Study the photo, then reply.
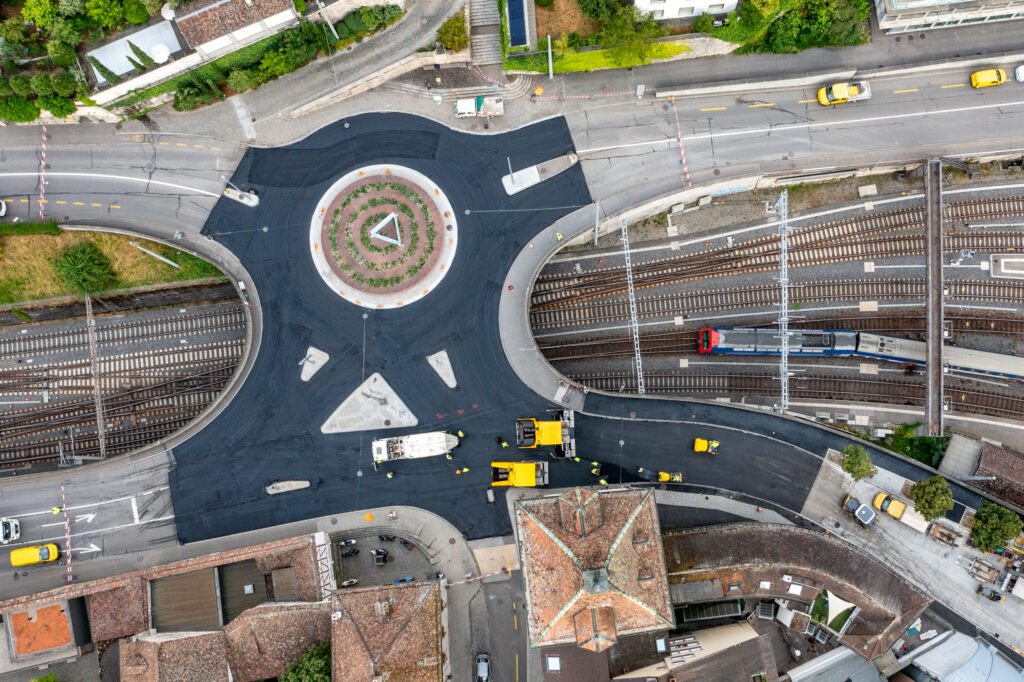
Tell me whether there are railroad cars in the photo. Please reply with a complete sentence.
Yes, the photo shows a railroad car.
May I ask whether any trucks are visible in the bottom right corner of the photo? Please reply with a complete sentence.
Yes, the scene does show a truck in the bottom right corner of the photo.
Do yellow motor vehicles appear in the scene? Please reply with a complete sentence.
Yes, a yellow motor vehicle appears in the view.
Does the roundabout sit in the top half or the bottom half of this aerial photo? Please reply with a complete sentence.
It is in the top half that the roundabout appears.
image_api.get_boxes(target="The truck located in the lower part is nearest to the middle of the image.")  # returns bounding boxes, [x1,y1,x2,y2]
[370,432,461,469]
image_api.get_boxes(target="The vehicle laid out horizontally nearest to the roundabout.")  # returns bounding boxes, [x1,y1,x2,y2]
[456,99,507,123]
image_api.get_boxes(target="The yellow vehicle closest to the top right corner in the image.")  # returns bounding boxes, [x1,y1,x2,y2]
[963,68,1004,94]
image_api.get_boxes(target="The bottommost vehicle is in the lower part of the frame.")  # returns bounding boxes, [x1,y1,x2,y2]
[472,648,494,682]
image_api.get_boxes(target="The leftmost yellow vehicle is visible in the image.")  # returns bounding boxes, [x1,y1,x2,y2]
[10,541,66,566]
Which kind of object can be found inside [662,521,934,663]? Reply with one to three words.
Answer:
building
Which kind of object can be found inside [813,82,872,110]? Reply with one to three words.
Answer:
truck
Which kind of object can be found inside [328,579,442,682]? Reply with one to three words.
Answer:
house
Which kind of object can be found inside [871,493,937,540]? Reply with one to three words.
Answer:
truck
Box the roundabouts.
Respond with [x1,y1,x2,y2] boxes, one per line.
[266,119,500,353]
